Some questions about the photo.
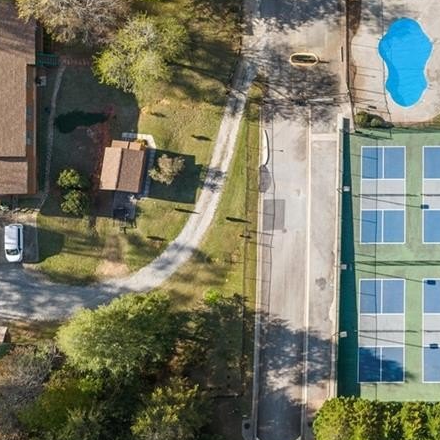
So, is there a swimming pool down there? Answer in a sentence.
Yes, a swimming pool is visible in the scene.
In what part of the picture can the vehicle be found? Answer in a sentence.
The vehicle appears toward the left of the photo.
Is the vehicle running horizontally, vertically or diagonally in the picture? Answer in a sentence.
The vehicle is oriented vertically.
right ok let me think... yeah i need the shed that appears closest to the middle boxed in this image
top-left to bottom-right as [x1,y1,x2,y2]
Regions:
[102,139,152,192]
